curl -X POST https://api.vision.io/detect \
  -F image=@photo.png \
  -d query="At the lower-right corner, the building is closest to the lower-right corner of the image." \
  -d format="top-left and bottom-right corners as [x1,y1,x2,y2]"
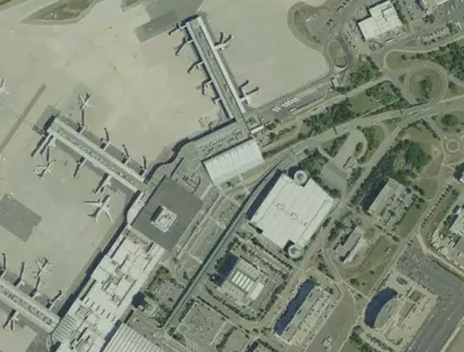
[375,292,420,333]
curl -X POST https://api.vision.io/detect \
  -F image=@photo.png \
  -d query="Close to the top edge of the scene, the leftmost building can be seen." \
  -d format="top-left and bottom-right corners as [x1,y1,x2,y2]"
[358,0,402,39]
